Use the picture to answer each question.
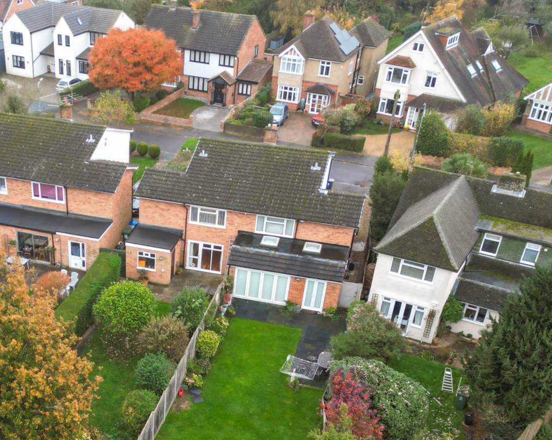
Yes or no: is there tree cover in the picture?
Yes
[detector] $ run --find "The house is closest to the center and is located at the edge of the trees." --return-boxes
[125,124,366,309]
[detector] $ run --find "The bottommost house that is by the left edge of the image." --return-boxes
[0,96,135,269]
